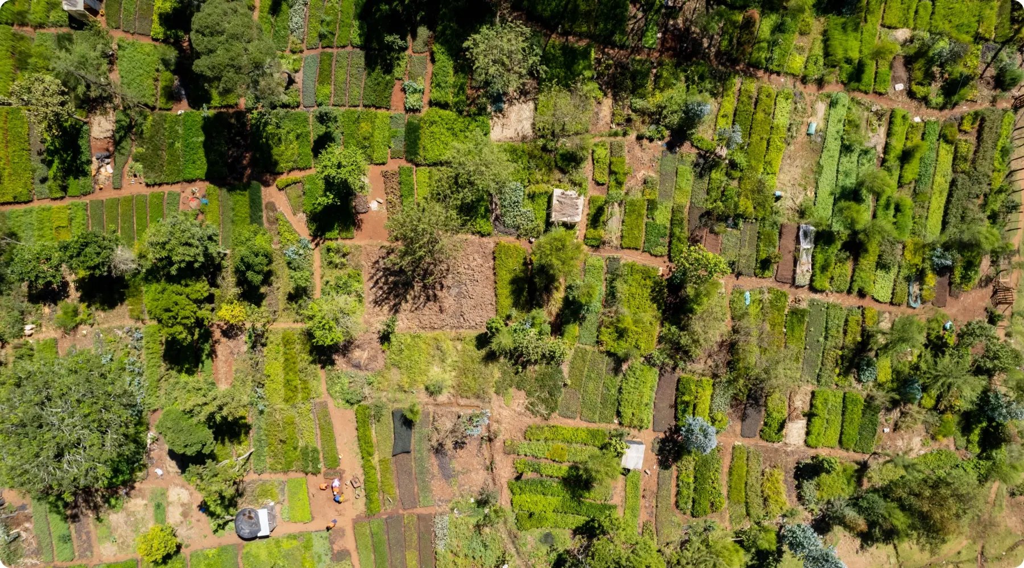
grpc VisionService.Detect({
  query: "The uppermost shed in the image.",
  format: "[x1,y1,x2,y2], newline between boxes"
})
[62,0,113,29]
